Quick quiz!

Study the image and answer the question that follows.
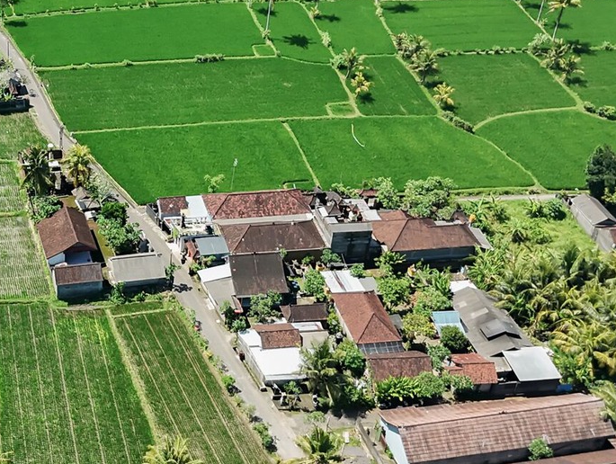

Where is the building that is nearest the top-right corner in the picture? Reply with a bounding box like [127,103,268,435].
[563,192,616,244]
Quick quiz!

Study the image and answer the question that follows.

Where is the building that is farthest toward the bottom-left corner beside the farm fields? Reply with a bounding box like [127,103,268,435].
[55,262,102,298]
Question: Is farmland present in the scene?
Yes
